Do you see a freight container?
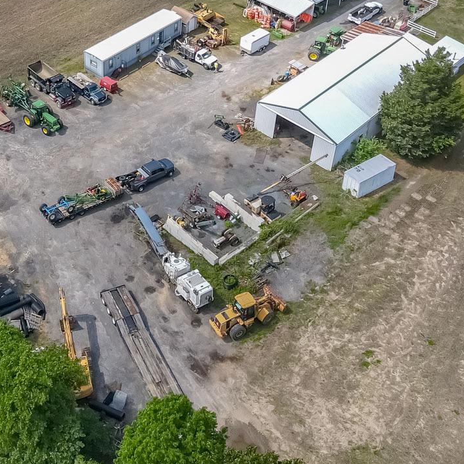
Yes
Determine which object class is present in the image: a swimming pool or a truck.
truck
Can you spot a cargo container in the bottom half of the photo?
No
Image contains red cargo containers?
No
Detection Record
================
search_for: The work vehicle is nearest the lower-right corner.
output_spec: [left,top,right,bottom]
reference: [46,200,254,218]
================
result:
[208,294,290,347]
